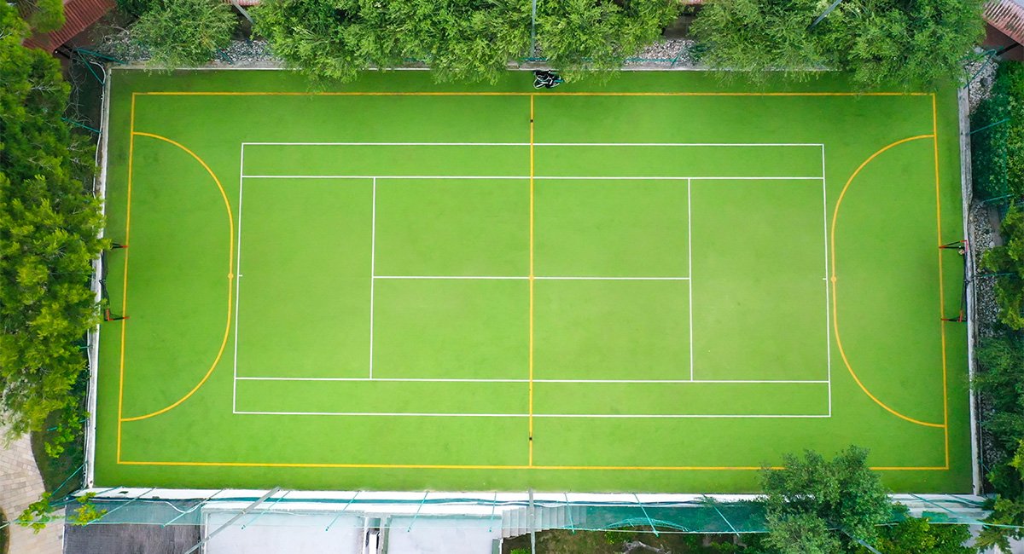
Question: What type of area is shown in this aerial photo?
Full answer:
This image shows a sports ground.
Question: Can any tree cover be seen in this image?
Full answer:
Yes, tree cover can be seen from above here.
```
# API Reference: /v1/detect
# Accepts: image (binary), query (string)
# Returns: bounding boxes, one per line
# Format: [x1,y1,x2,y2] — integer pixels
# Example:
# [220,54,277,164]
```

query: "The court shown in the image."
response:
[94,69,973,494]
